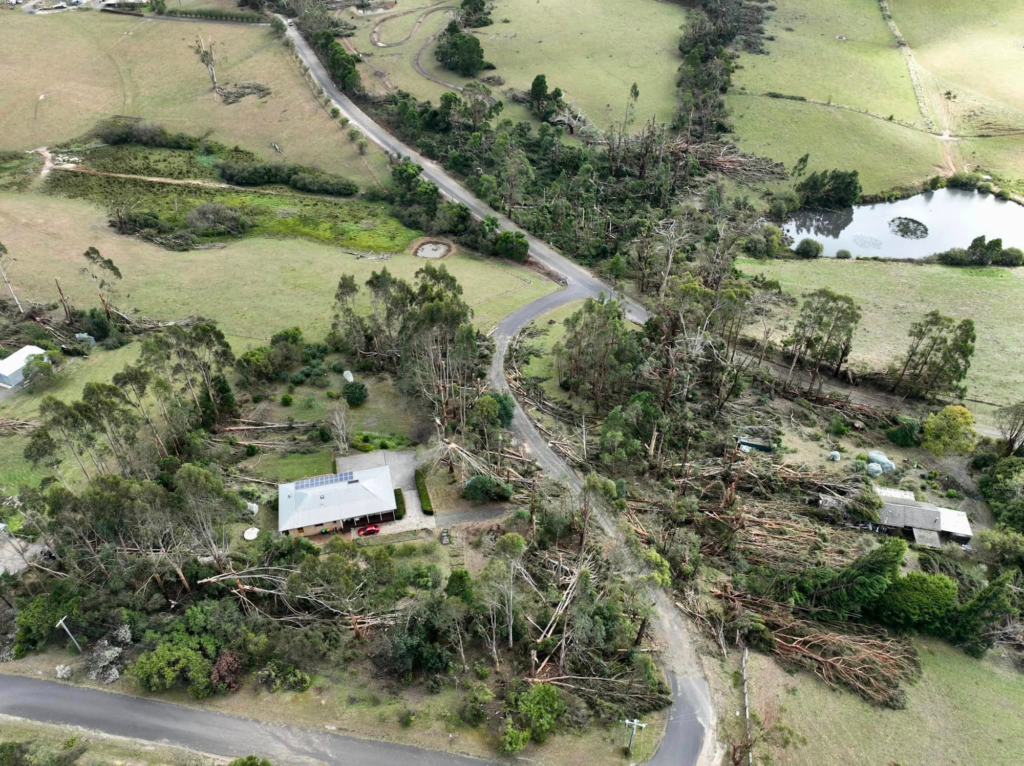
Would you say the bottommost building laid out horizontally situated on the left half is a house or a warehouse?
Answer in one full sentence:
The bottommost building laid out horizontally situated on the left half appears to be a house.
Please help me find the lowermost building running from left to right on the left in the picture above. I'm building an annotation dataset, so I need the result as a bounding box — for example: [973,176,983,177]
[278,465,397,538]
